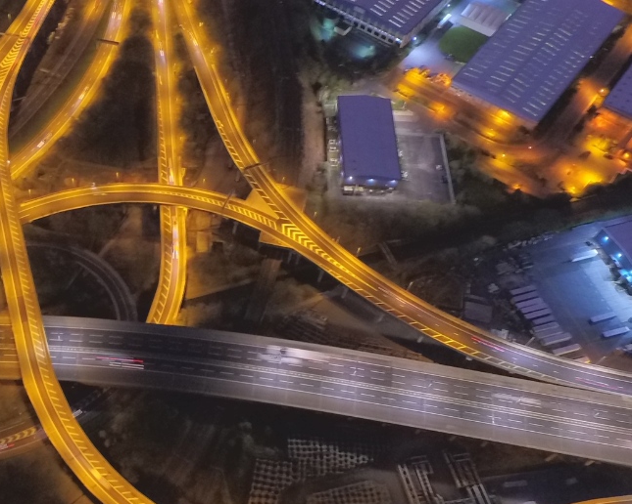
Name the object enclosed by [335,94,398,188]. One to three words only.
building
